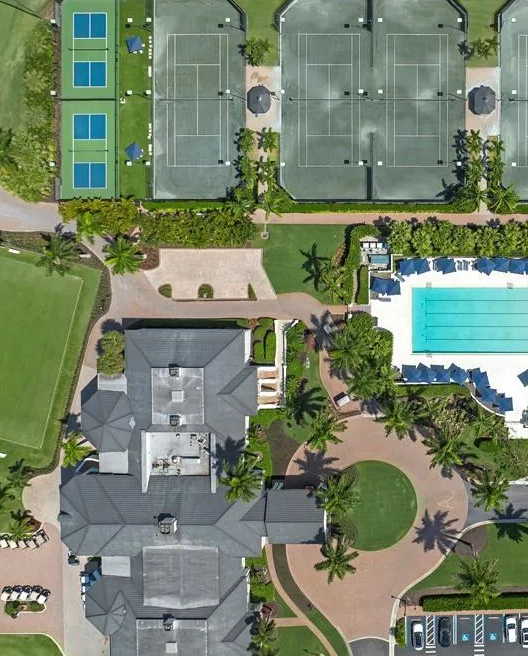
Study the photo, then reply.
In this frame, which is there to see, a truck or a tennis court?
tennis court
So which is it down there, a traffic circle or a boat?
traffic circle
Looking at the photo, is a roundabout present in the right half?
Yes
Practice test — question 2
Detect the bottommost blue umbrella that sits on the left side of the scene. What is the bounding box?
[125,141,146,162]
